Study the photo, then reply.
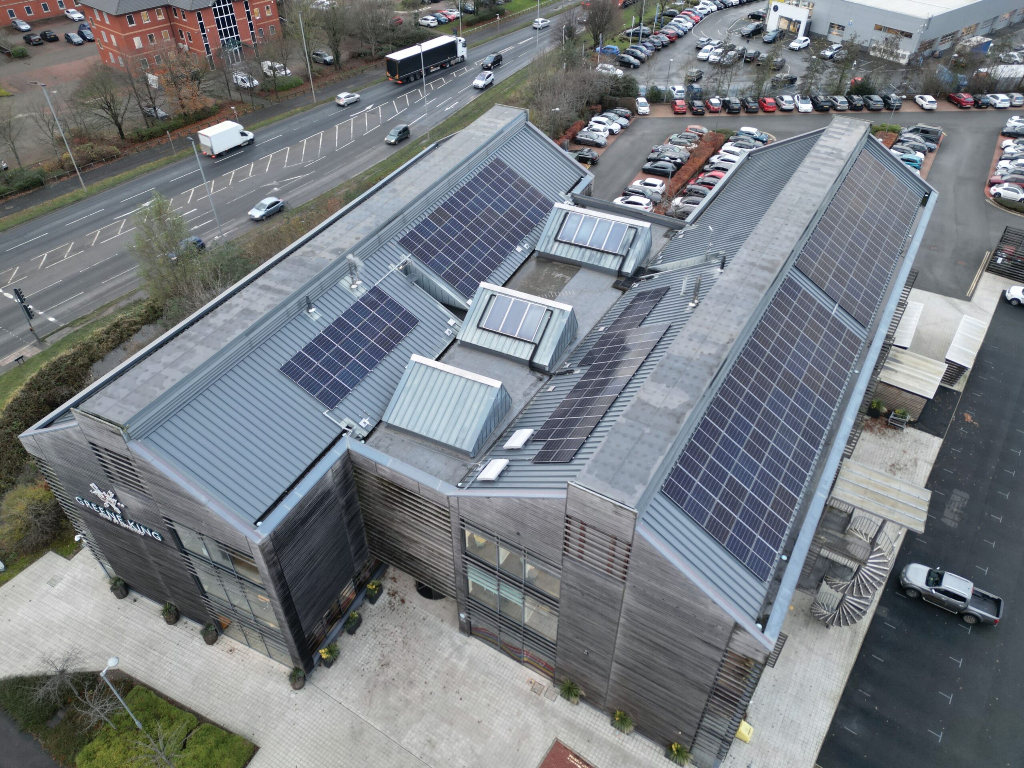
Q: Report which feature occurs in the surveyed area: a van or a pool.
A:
van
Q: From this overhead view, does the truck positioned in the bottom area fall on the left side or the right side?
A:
right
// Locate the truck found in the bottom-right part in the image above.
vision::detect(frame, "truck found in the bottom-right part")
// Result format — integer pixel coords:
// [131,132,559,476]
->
[901,571,1007,642]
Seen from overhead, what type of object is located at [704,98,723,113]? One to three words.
car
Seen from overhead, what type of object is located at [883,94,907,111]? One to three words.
car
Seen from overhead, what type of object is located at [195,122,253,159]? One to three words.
van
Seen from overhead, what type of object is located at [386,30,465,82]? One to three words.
truck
